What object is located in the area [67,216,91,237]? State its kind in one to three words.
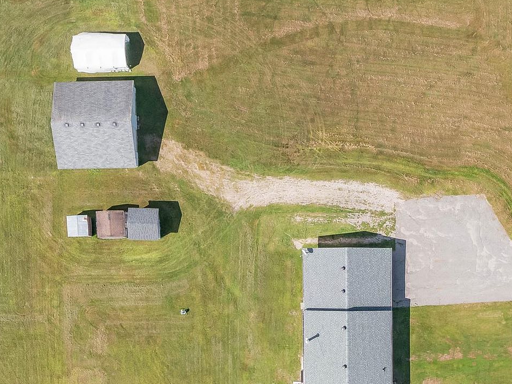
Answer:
shed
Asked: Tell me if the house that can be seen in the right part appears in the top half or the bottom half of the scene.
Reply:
bottom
